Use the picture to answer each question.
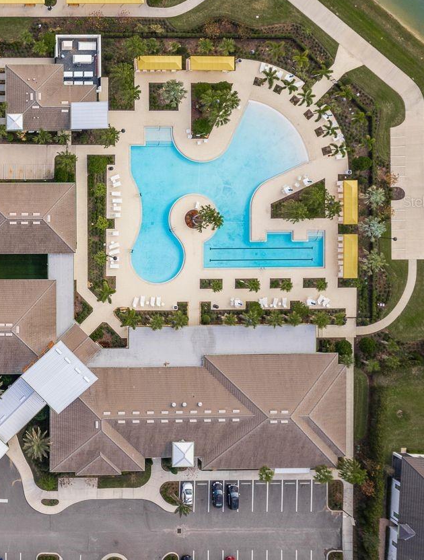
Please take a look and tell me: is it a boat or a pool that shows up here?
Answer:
pool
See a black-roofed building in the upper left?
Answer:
No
